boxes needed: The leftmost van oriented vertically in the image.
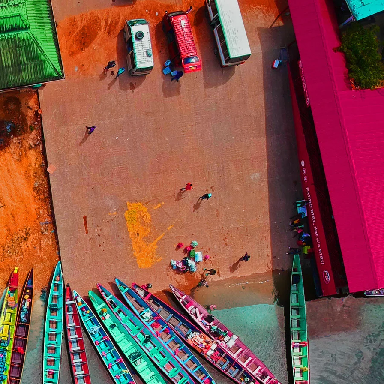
[122,18,152,76]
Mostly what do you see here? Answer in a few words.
paved ground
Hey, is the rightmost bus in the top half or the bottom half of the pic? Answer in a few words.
top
